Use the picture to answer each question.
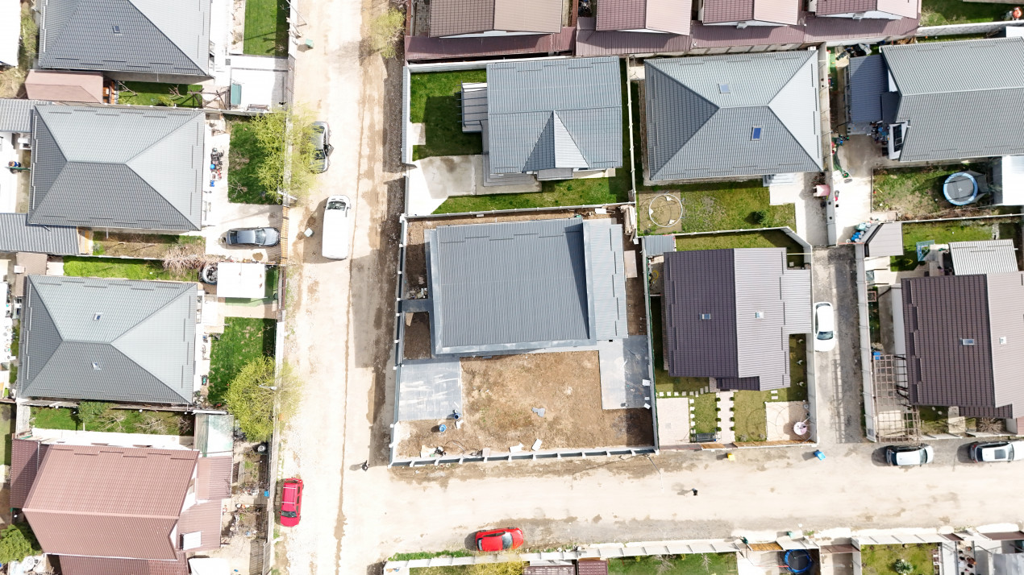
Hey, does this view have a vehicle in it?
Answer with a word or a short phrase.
Yes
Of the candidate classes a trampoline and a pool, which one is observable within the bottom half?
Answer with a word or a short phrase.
trampoline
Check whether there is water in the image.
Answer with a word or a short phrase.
No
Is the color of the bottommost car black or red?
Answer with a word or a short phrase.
red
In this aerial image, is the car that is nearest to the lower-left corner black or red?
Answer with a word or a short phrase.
red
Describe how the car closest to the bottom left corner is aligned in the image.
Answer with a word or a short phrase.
from top to bottom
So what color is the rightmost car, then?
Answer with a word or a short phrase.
white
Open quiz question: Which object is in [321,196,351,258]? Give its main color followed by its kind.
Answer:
white van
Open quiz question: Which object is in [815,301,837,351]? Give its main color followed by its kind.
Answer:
white car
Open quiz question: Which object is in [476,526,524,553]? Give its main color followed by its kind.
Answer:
red car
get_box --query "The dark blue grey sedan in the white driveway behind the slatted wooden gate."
[224,223,279,249]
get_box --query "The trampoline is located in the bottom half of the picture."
[781,550,818,575]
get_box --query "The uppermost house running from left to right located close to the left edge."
[38,0,222,79]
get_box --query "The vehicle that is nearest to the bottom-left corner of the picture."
[278,477,305,526]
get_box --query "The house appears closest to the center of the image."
[430,218,628,354]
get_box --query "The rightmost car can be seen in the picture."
[967,438,1024,465]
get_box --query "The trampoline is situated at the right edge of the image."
[939,172,986,206]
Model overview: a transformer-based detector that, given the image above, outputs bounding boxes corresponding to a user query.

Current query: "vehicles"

[815,301,837,351]
[967,438,1024,465]
[307,122,338,173]
[476,526,524,553]
[224,223,279,249]
[321,196,351,258]
[884,443,932,469]
[278,477,305,526]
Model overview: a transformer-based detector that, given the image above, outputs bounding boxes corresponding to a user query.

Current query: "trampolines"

[939,172,986,206]
[781,550,818,575]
